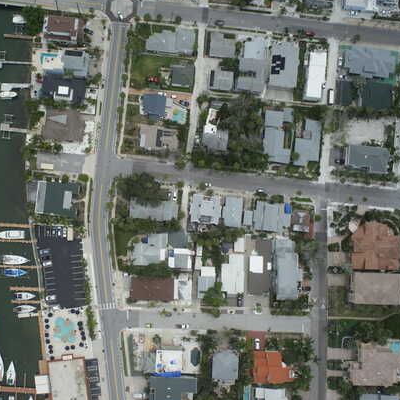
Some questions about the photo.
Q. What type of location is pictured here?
residential area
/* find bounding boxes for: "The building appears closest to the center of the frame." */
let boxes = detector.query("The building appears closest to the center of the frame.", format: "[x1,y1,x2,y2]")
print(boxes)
[191,194,222,224]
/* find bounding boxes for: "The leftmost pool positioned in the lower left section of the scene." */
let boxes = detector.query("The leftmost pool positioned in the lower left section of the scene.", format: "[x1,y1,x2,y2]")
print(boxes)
[53,316,78,344]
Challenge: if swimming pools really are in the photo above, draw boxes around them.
[53,316,78,344]
[171,109,186,122]
[190,347,202,368]
[39,53,58,65]
[389,342,400,351]
[243,387,249,400]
